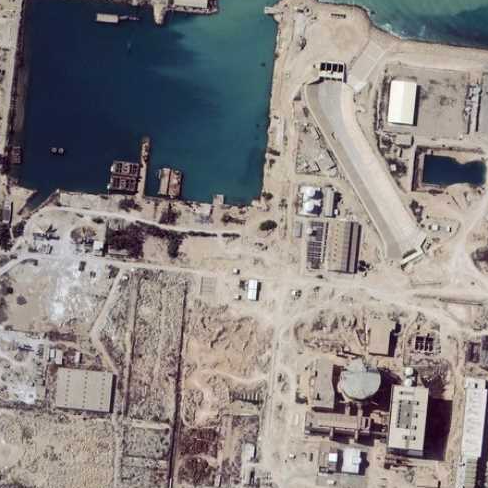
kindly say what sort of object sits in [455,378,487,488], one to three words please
building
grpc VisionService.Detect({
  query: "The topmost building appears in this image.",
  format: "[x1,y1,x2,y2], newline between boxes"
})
[388,81,418,126]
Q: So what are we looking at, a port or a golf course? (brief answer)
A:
port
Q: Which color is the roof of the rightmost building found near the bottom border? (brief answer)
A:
white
